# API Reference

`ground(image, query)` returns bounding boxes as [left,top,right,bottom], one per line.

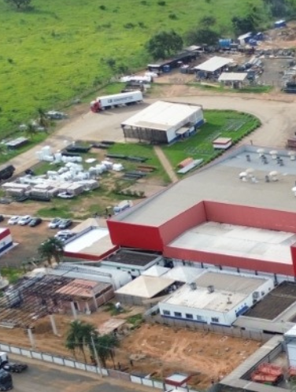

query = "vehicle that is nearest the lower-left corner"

[0,368,15,388]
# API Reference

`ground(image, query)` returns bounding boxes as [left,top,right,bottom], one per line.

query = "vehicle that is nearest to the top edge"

[91,92,144,113]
